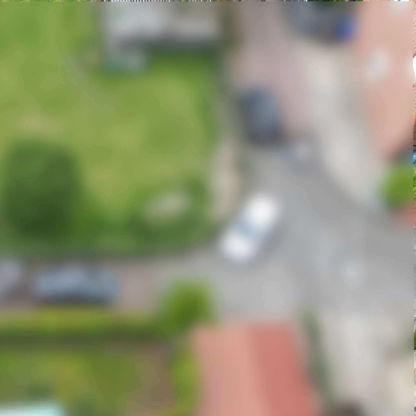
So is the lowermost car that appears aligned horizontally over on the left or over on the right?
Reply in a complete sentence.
The lowermost car that appears aligned horizontally appears in the left half of the scene.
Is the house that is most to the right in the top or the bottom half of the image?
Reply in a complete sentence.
It is in the top half that the house that is most to the right appears.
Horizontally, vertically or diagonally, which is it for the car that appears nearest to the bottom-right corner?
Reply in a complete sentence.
The car that appears nearest to the bottom-right corner is oriented diagonally.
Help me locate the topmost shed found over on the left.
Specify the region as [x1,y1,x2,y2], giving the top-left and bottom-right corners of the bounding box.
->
[96,3,222,64]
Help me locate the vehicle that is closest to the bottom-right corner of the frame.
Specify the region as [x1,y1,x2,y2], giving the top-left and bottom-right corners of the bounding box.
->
[215,196,274,267]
